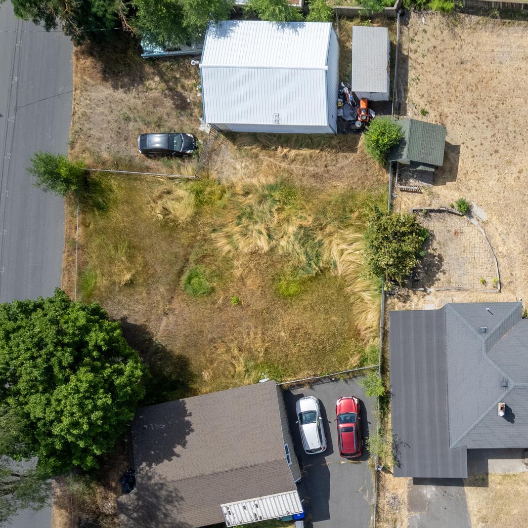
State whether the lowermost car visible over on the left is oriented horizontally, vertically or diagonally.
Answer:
horizontally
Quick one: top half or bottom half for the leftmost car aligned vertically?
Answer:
bottom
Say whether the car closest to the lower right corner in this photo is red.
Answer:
Yes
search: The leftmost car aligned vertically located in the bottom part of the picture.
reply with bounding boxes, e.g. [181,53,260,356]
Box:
[296,395,329,455]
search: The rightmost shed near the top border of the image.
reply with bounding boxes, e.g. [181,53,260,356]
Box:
[351,25,390,101]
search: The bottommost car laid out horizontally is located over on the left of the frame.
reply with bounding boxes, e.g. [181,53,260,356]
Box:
[138,129,199,157]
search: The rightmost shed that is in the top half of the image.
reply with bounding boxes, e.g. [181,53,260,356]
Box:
[389,118,446,190]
